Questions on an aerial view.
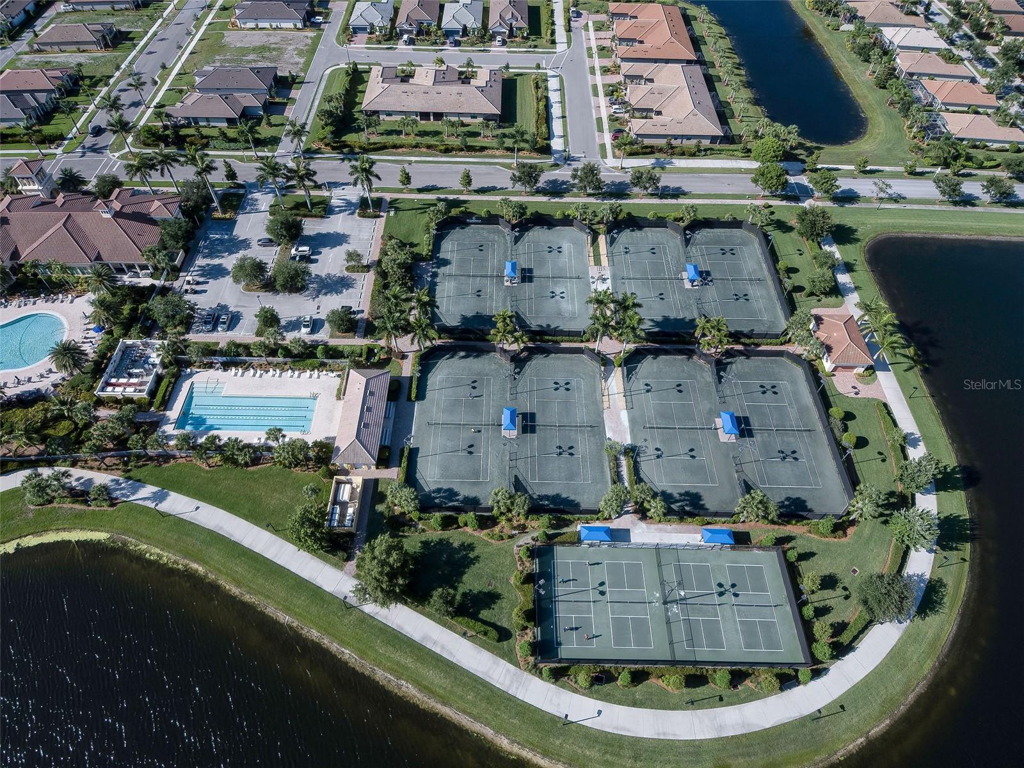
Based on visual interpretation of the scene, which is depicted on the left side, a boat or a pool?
pool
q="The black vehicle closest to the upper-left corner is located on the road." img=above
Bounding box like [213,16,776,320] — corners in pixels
[86,124,104,137]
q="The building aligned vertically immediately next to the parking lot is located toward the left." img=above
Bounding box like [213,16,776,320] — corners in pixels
[331,368,391,470]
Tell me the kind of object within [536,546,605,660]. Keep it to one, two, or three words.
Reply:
sports court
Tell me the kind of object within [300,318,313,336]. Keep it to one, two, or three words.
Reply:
vehicle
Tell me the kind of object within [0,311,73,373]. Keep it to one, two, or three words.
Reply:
swimming pool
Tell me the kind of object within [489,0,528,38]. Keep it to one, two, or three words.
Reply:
house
